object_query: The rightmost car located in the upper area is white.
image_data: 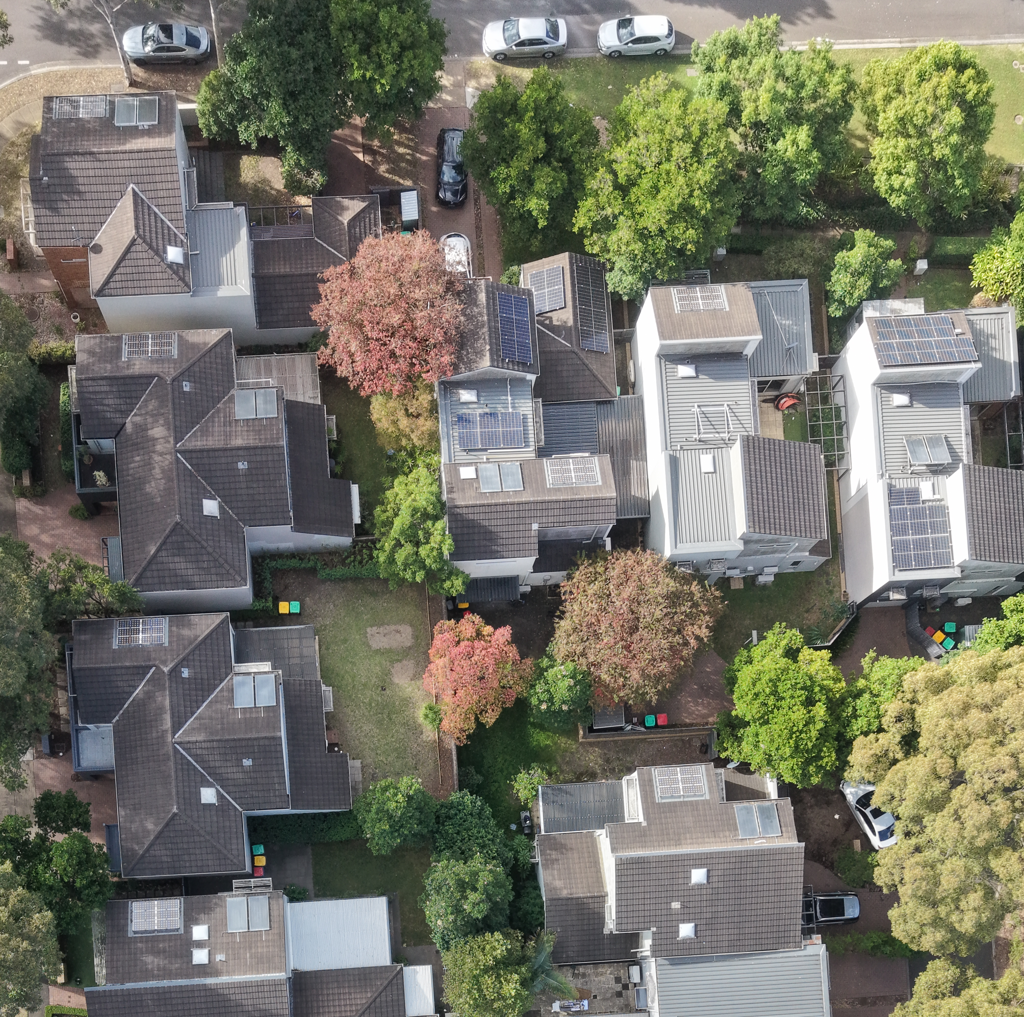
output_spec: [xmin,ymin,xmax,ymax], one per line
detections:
[600,7,680,54]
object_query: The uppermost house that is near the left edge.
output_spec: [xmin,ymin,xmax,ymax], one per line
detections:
[20,89,384,349]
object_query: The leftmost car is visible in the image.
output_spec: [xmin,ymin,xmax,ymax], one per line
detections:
[120,17,208,65]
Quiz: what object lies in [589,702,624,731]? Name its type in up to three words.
shed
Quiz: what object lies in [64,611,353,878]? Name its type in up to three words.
house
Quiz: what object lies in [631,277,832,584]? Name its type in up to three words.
house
